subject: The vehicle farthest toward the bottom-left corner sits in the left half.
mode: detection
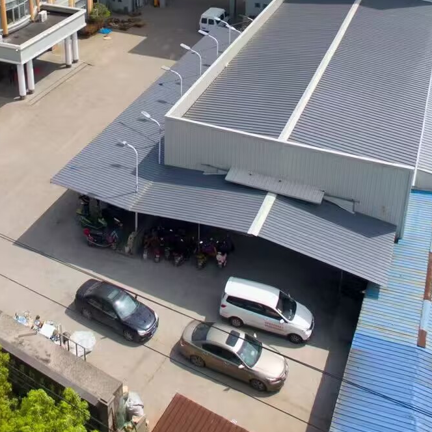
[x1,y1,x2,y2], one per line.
[73,283,160,344]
